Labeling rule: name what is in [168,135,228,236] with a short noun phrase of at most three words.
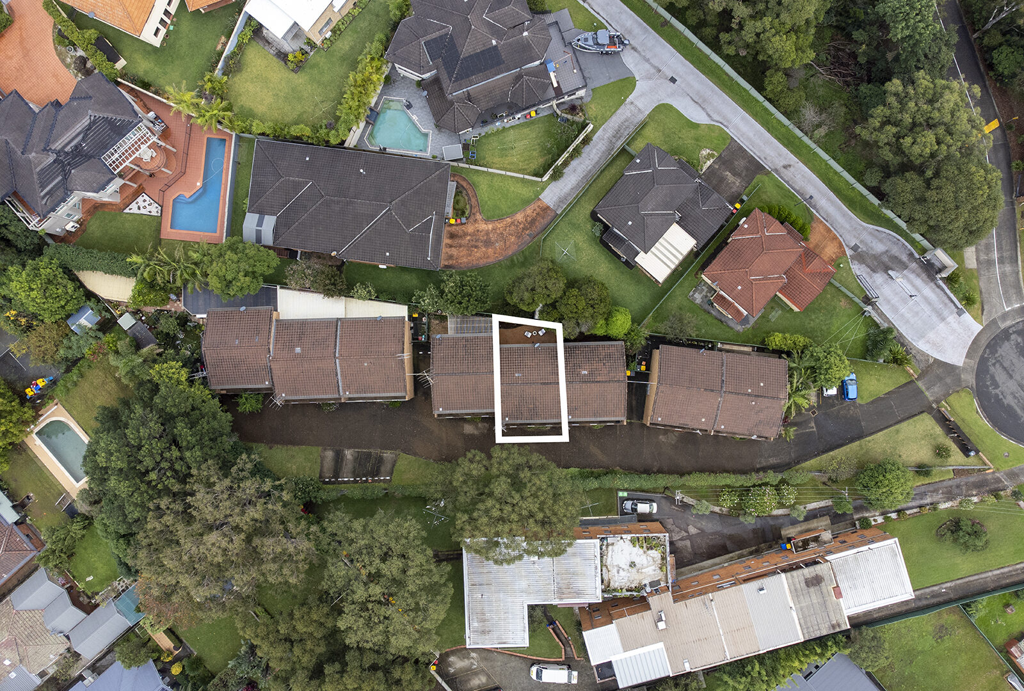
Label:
swimming pool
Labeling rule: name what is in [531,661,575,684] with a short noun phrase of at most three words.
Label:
vehicle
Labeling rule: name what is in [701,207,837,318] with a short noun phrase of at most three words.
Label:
house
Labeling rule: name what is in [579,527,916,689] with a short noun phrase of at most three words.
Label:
building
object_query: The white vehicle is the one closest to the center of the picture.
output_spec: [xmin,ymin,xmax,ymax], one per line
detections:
[621,499,657,514]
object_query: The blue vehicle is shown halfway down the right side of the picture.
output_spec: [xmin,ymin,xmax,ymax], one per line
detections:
[839,372,858,402]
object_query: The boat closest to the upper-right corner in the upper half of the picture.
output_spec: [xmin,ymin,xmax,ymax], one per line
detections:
[573,32,629,53]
